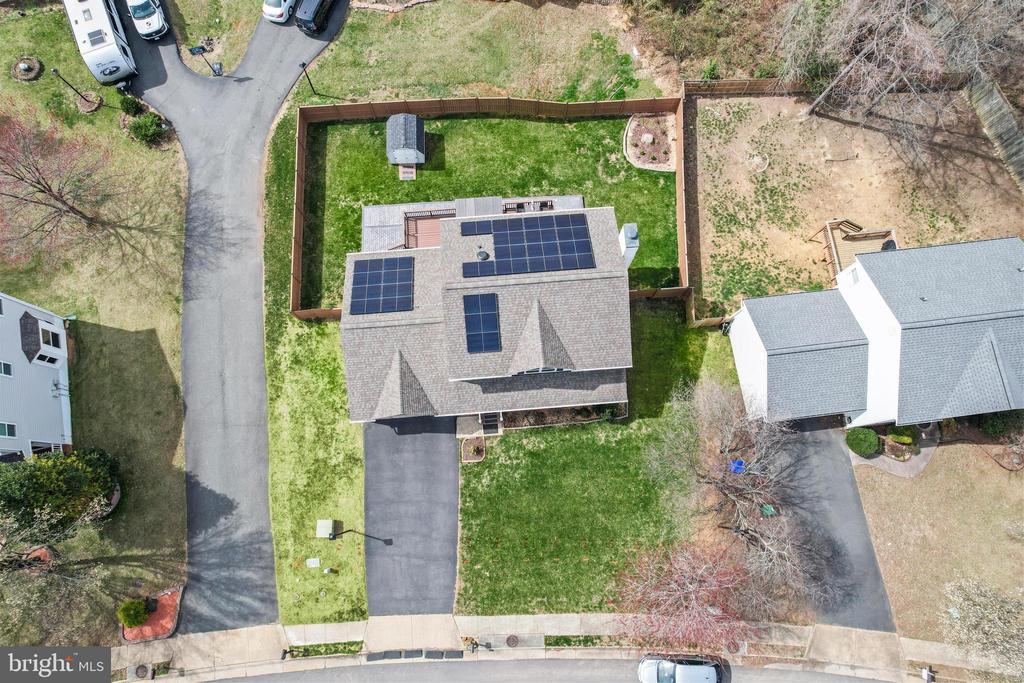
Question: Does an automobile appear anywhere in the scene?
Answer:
Yes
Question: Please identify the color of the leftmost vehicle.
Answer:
white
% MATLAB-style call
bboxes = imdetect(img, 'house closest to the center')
[340,205,637,425]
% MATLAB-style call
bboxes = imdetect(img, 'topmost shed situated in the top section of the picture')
[386,112,426,181]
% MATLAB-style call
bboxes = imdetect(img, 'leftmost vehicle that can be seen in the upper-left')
[62,0,141,99]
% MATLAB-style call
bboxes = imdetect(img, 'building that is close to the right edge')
[730,235,1024,451]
